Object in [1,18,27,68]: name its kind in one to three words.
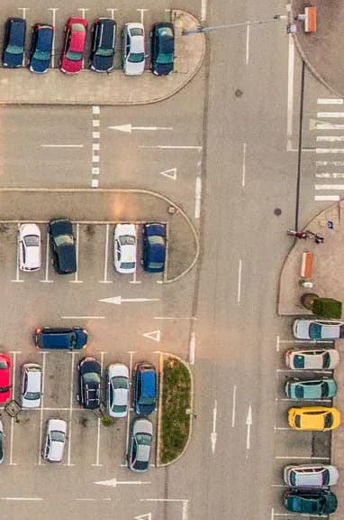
car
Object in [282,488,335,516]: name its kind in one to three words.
car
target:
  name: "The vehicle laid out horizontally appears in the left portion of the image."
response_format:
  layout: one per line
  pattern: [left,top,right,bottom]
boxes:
[34,325,85,351]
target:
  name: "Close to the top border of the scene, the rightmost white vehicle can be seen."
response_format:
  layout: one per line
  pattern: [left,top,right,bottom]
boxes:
[120,23,148,74]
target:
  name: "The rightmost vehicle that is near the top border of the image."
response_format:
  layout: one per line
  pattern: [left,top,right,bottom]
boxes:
[149,23,176,75]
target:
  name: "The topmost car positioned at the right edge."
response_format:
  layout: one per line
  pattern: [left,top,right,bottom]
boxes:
[291,317,344,343]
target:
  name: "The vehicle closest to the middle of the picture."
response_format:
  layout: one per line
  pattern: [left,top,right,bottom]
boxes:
[140,223,167,273]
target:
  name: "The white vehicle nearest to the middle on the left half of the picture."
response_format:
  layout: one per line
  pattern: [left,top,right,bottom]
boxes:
[112,224,137,273]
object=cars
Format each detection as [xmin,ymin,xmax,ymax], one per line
[286,405,339,432]
[282,462,337,489]
[105,362,131,417]
[291,317,344,343]
[47,218,76,274]
[284,374,336,401]
[17,223,43,272]
[149,23,176,75]
[284,347,337,372]
[90,19,116,72]
[120,23,148,74]
[282,488,335,516]
[130,362,160,414]
[125,418,154,471]
[140,223,167,273]
[75,357,102,409]
[0,354,13,402]
[27,24,54,73]
[59,19,87,74]
[18,362,44,407]
[112,224,137,273]
[34,325,85,351]
[42,416,68,462]
[1,18,27,68]
[0,420,6,464]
